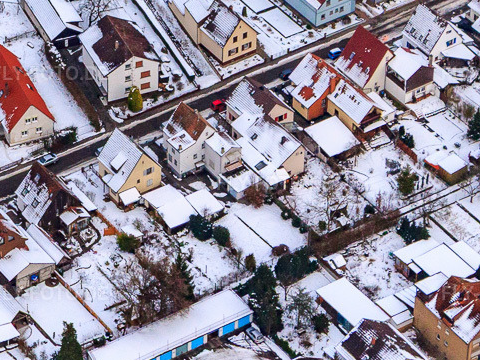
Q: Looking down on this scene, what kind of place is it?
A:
residential area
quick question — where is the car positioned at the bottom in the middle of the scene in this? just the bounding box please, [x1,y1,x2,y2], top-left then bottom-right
[242,322,267,344]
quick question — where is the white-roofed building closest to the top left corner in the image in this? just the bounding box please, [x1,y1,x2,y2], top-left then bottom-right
[24,0,84,48]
